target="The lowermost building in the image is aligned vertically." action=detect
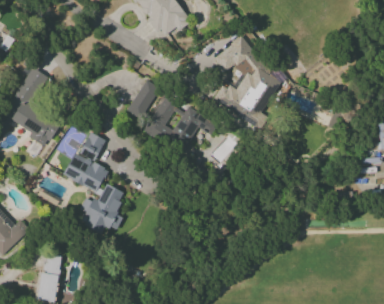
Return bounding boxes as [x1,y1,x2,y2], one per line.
[38,256,61,302]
